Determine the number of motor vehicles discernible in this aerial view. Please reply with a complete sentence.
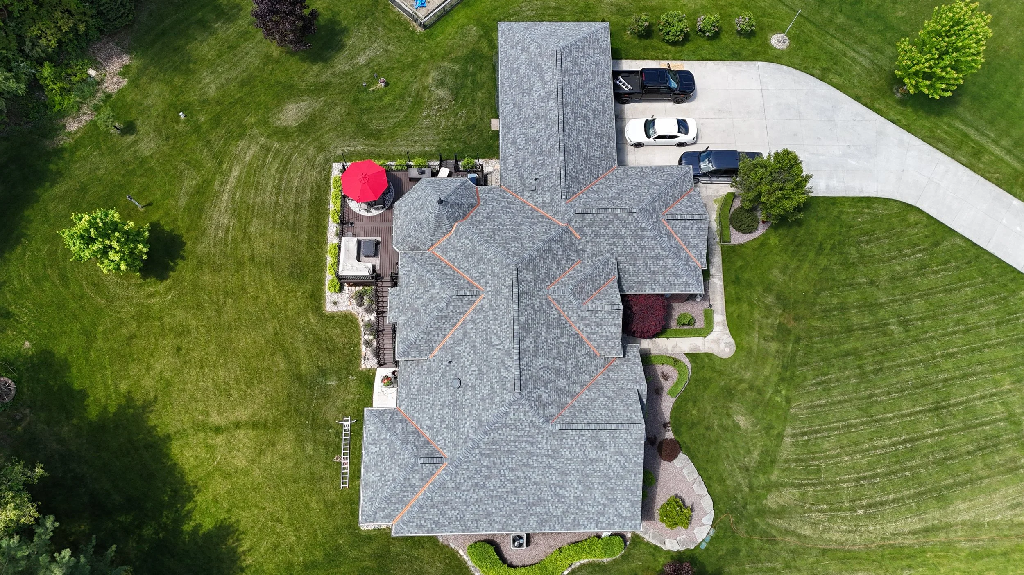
The count of motor vehicles comes to 3.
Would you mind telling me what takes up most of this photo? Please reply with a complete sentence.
Most of the picture is covered by grass.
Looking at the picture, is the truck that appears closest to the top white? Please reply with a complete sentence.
No, the truck that appears closest to the top is black.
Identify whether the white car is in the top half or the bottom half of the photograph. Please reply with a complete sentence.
You can find the white car in the top half.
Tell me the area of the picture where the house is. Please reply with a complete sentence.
The house is located in the center region of the scene.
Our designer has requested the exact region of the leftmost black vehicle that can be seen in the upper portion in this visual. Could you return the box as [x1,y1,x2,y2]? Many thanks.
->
[613,65,697,103]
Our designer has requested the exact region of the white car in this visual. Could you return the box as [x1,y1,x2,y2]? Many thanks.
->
[624,114,698,147]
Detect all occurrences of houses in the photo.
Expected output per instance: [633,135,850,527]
[356,19,710,539]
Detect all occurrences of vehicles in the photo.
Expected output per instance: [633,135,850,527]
[675,145,765,183]
[624,114,698,147]
[613,65,697,103]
